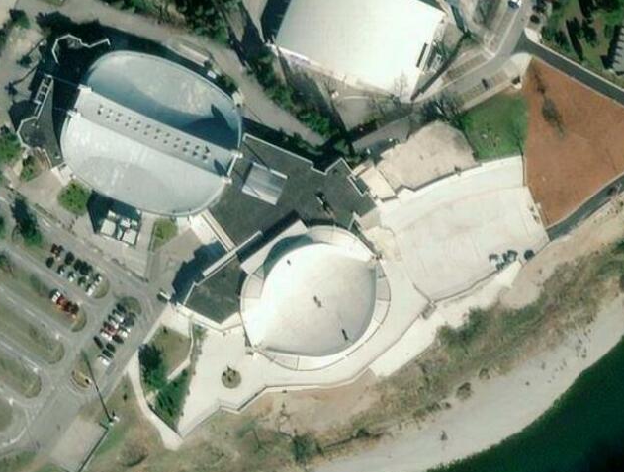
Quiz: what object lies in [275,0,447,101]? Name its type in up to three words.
building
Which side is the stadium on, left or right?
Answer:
left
